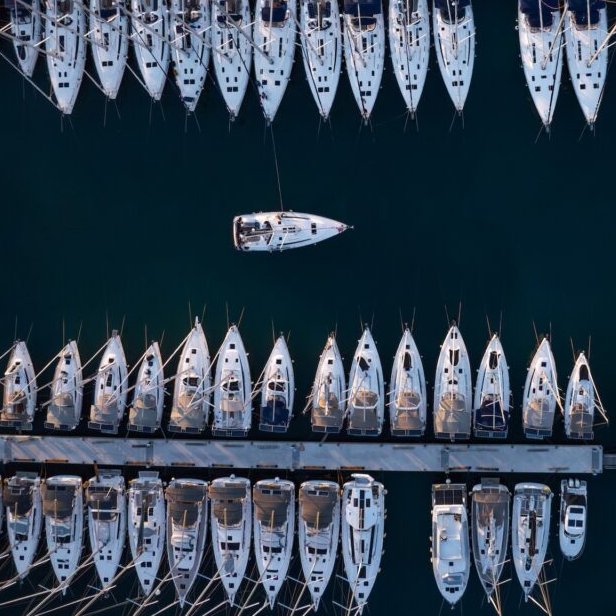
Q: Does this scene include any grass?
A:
No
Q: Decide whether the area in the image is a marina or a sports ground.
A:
marina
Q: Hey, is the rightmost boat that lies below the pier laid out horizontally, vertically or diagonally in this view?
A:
vertically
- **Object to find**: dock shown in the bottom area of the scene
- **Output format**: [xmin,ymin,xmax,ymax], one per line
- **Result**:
[0,433,603,472]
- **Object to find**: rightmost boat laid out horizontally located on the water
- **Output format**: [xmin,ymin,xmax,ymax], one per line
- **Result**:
[231,211,352,252]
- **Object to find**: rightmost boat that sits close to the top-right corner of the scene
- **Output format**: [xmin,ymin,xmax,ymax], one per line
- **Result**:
[562,0,616,152]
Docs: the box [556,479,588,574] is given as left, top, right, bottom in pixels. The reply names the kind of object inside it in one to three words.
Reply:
boat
